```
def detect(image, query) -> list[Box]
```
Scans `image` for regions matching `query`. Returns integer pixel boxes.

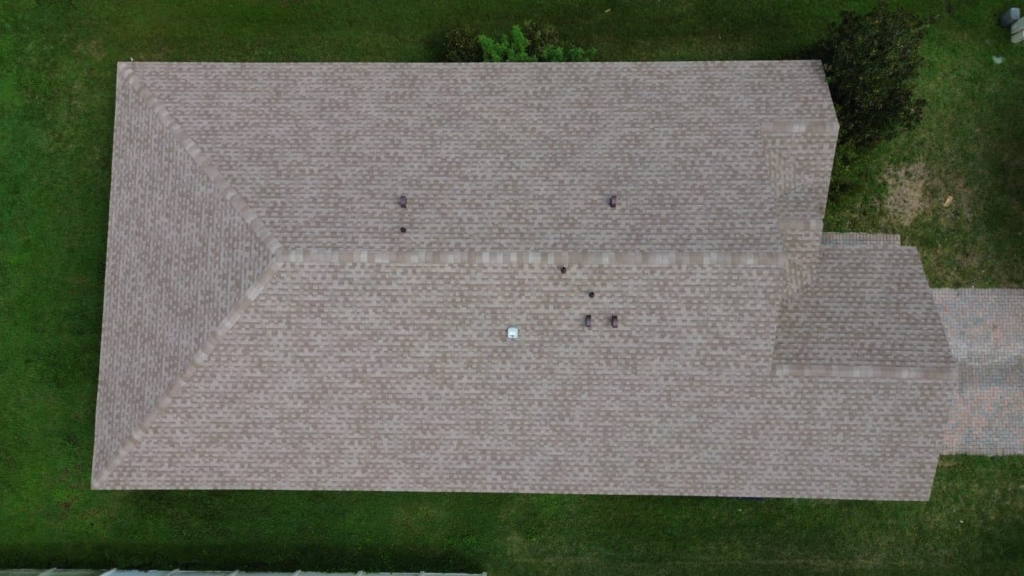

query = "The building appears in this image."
[90,58,959,501]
